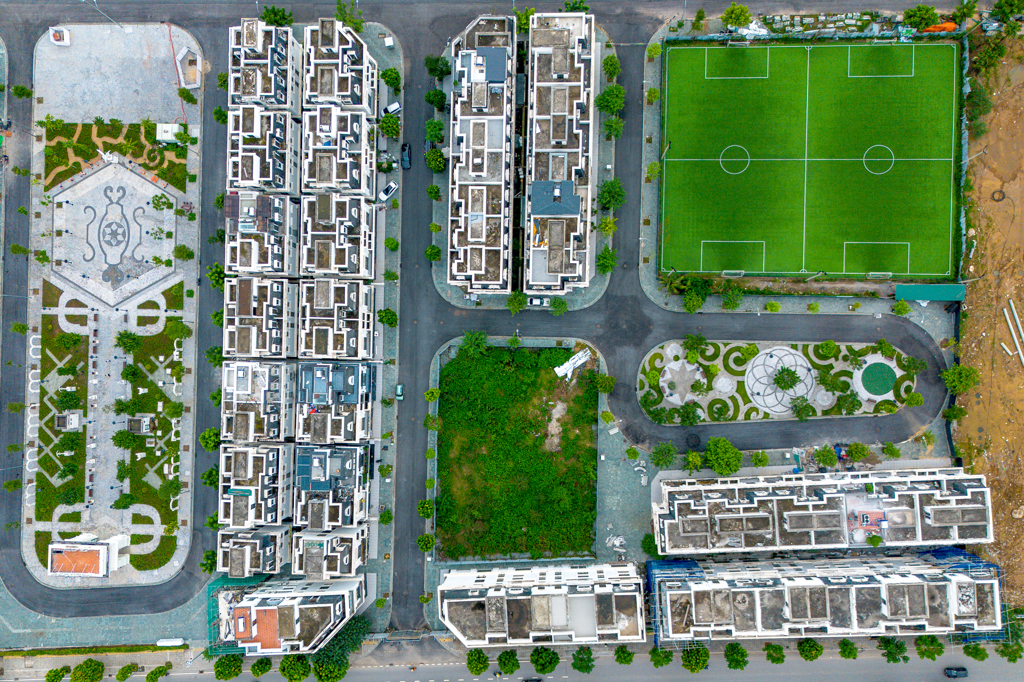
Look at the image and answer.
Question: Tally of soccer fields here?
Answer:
two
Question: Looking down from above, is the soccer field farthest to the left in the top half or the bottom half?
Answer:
top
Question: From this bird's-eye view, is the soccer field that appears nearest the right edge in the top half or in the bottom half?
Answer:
top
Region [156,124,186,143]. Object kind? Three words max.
building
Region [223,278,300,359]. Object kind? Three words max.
house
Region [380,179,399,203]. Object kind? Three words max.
car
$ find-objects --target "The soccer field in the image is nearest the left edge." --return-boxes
[659,37,810,285]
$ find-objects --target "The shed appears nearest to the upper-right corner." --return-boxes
[889,284,965,301]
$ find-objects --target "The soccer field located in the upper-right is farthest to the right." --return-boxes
[804,33,958,285]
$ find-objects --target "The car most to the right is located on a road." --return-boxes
[943,666,968,679]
